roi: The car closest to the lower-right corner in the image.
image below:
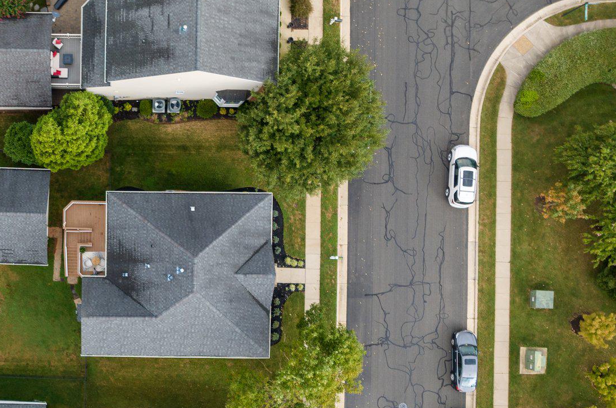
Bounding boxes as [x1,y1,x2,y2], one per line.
[449,330,482,393]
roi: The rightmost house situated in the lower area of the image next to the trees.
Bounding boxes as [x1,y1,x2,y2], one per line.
[74,190,277,359]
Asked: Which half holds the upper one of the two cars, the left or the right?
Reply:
right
